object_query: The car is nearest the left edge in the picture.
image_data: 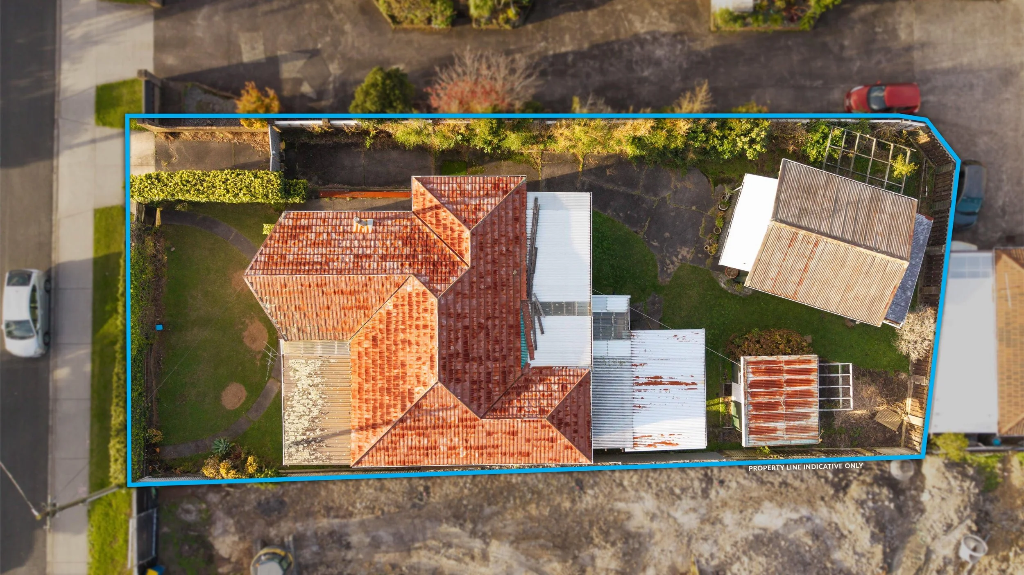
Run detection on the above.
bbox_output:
[5,269,56,356]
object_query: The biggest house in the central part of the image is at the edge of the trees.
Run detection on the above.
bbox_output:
[242,174,593,468]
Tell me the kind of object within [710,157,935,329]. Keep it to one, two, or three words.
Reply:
building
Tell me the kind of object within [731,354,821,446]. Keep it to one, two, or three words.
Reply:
shed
